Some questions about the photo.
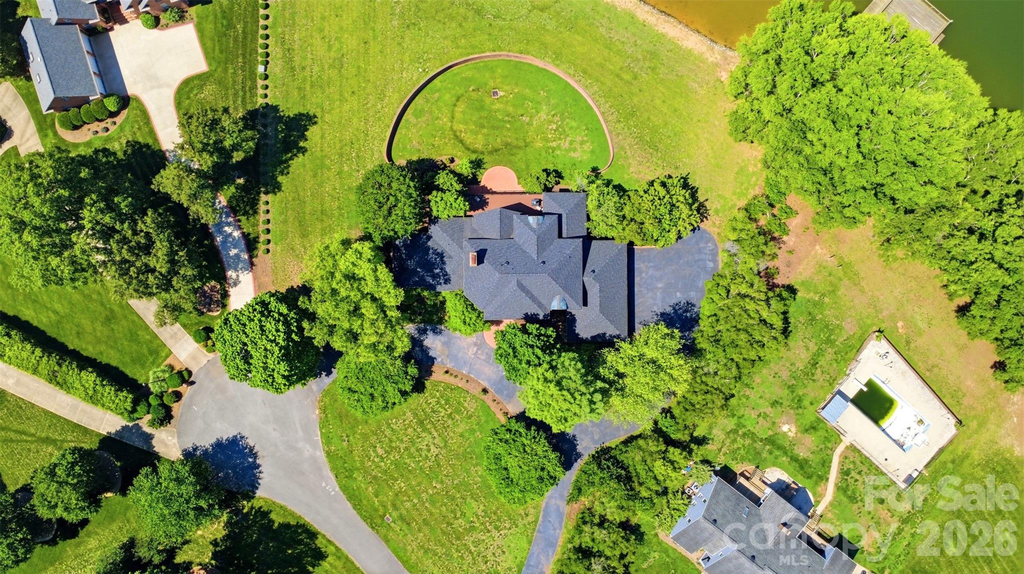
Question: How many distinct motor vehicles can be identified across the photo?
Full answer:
There are no motor vehicles in this view.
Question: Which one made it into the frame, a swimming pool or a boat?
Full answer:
Visible in the photo is a swimming pool.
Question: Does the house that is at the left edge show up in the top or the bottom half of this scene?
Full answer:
The house that is at the left edge sits in the top half of the picture.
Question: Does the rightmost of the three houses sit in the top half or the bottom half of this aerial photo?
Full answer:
The rightmost of the three houses sits in the bottom half of the picture.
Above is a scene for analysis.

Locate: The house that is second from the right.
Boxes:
[393,192,627,342]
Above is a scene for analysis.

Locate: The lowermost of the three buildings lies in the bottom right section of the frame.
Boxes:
[670,477,858,574]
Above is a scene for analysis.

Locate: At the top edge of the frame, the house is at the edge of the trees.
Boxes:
[20,0,203,116]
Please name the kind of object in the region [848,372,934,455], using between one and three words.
swimming pool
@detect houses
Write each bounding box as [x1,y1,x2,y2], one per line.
[393,192,627,342]
[20,0,203,116]
[670,477,858,574]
